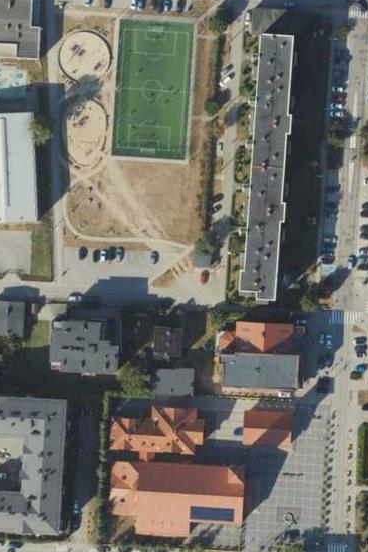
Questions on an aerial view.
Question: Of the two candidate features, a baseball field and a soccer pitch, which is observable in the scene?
soccer pitch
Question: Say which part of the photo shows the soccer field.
top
